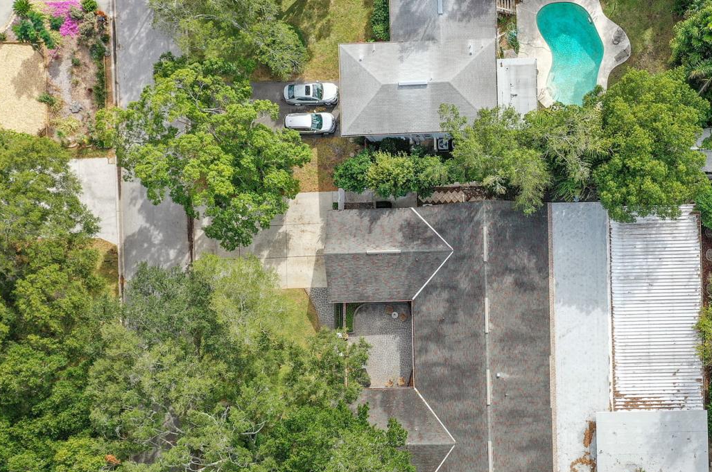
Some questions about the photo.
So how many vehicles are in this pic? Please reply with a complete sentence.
I count 2 vehicles.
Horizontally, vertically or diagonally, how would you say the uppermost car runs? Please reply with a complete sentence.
In this picture, the uppermost car is oriented horizontally.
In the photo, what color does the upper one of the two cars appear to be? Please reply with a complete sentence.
The color of the upper one of the two cars is white.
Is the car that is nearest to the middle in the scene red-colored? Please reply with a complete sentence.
No, the car that is nearest to the middle is white.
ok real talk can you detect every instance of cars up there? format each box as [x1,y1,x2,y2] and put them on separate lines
[283,78,337,105]
[285,109,336,135]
